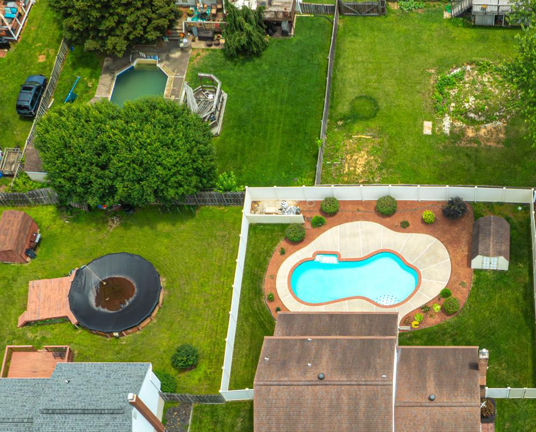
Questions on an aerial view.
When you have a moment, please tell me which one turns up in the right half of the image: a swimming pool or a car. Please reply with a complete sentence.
You can see a swimming pool in the right half of the image.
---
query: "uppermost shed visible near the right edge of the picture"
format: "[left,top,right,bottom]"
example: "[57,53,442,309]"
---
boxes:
[472,212,511,269]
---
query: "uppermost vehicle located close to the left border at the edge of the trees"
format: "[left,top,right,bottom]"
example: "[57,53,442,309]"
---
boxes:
[13,75,50,119]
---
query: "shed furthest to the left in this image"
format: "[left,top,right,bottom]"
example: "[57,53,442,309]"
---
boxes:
[0,208,43,266]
